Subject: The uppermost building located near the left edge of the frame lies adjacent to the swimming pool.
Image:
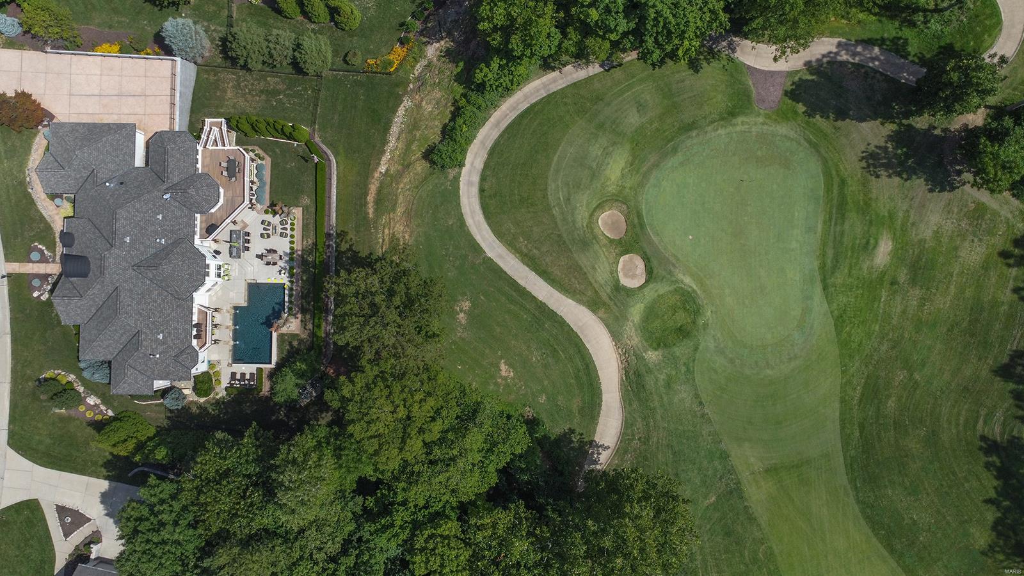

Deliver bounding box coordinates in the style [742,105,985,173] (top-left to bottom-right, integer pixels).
[34,119,254,395]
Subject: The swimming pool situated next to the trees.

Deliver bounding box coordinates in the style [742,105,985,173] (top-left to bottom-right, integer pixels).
[227,280,289,367]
